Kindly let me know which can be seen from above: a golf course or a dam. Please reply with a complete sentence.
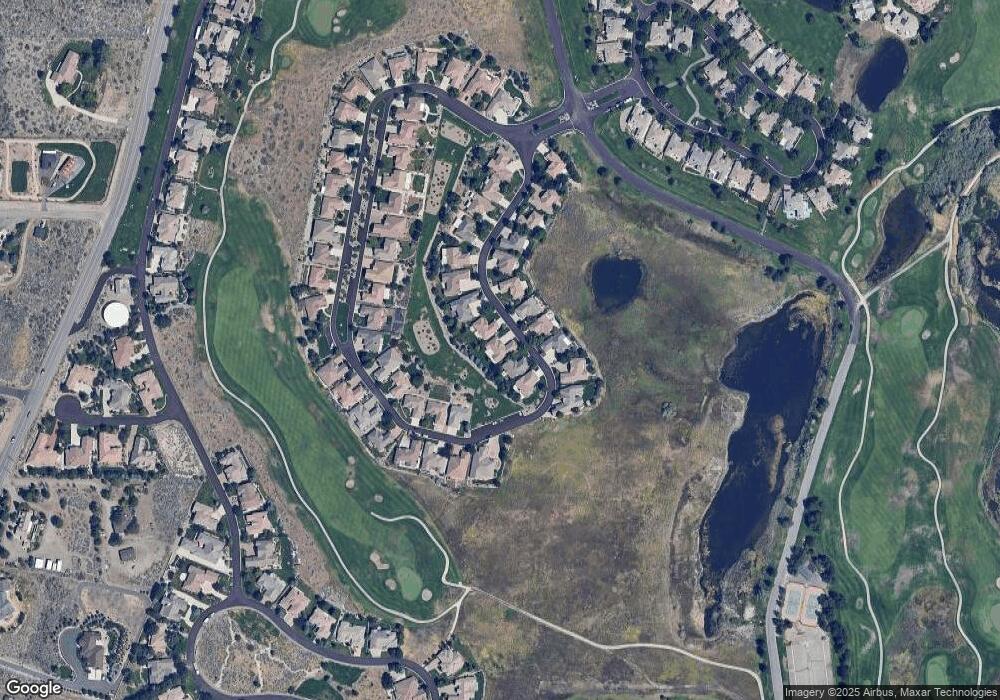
The image shows a golf course.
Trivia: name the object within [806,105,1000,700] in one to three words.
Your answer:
golf course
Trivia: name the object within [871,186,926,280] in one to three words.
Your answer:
pond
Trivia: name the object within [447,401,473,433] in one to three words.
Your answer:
house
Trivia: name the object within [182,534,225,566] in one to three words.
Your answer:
house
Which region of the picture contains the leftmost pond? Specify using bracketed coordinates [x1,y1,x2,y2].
[590,254,645,310]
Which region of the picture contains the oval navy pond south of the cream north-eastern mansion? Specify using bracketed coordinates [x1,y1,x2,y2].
[857,37,910,110]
